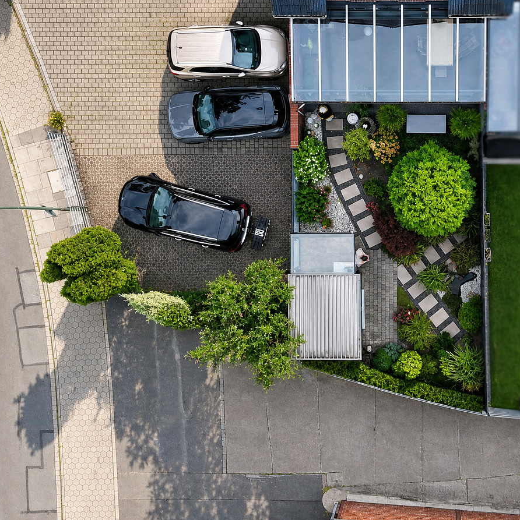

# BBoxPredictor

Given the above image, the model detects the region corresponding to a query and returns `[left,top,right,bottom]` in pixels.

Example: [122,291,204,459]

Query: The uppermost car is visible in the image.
[170,14,287,78]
